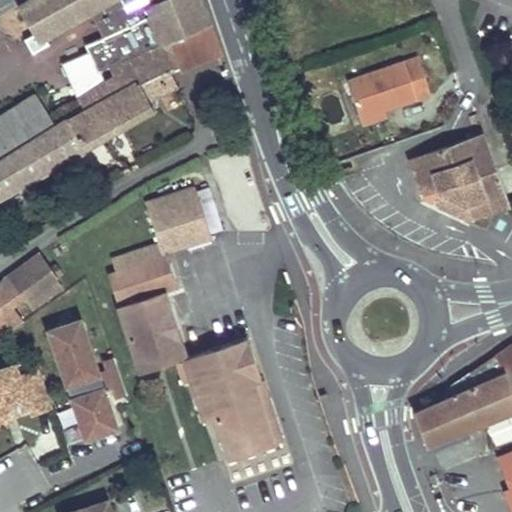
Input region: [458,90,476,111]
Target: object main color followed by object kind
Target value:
white car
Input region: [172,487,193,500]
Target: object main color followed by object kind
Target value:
white vehicle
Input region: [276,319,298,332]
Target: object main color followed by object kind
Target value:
gray vehicle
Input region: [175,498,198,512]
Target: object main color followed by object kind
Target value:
white vehicle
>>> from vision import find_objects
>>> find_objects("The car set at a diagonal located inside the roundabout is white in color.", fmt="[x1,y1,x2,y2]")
[393,268,413,286]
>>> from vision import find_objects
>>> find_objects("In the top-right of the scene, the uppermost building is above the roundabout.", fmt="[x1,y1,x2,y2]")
[349,55,431,126]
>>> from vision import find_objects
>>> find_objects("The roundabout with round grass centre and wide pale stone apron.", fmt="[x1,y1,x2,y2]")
[322,261,444,383]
